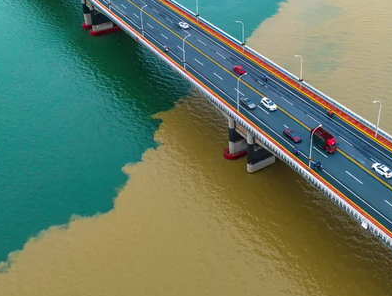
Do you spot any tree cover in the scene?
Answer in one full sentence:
No, the picture contains no tree cover.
